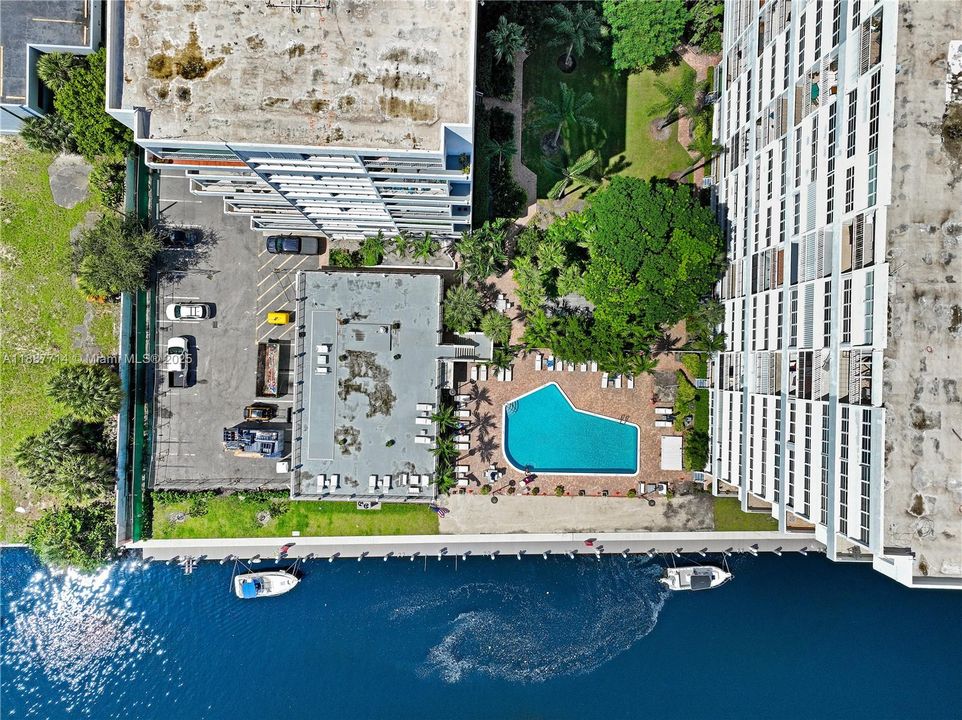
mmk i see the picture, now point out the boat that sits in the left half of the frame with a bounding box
[231,572,299,598]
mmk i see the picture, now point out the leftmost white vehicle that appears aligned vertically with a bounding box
[162,337,186,388]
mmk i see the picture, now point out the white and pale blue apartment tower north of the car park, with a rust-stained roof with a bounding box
[104,0,487,248]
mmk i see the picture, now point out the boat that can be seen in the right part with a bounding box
[664,568,732,589]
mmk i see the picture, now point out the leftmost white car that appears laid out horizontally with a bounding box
[164,301,206,321]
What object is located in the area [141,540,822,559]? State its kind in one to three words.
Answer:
pier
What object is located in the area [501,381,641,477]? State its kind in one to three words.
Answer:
swimming pool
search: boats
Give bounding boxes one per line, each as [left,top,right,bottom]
[664,568,732,589]
[231,572,299,598]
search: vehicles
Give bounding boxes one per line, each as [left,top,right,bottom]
[162,337,186,388]
[163,227,205,246]
[241,403,270,420]
[164,301,206,321]
[265,235,317,255]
